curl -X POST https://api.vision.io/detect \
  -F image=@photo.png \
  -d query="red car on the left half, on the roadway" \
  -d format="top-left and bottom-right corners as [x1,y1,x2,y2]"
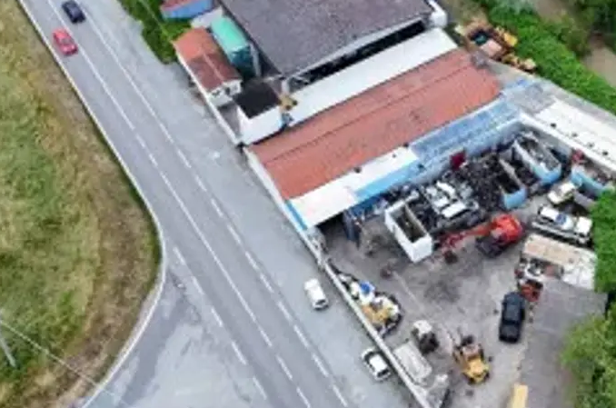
[51,30,77,58]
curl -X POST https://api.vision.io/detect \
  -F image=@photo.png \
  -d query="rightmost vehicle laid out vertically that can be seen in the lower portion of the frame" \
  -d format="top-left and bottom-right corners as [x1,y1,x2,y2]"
[500,294,522,343]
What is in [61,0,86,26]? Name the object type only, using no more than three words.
car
